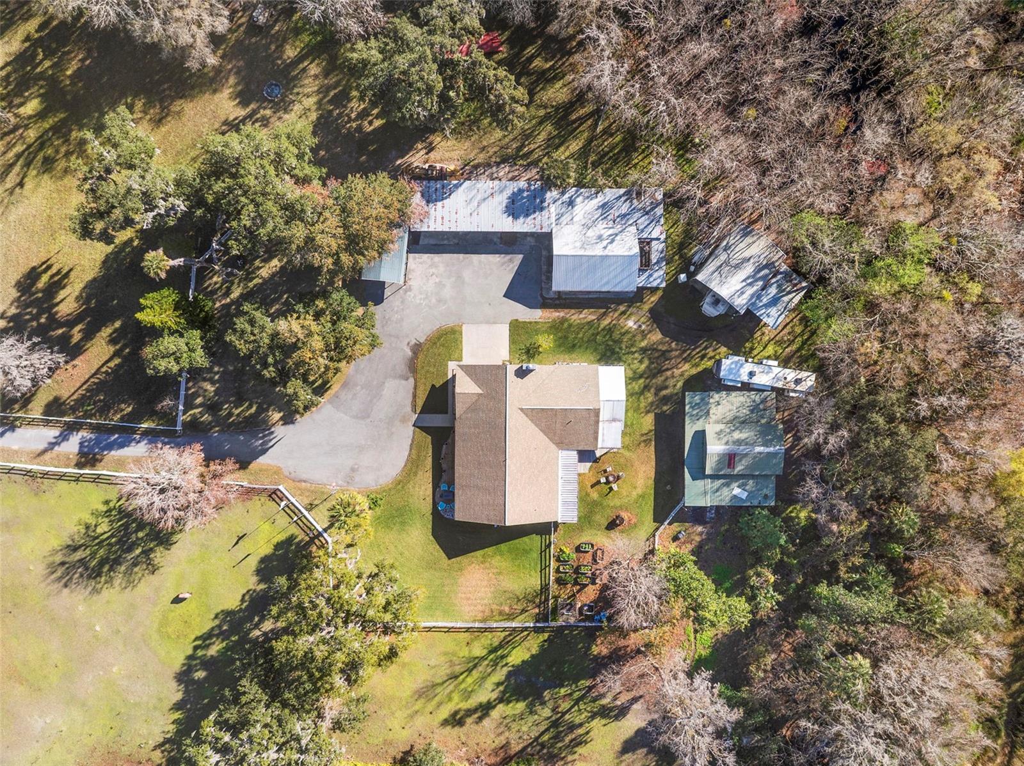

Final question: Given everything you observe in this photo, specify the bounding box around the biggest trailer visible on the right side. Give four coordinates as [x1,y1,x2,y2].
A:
[702,356,819,397]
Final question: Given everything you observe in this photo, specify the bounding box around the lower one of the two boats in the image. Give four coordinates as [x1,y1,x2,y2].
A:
[699,291,731,322]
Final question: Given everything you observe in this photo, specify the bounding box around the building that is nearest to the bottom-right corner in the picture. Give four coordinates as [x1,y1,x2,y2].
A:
[680,391,787,507]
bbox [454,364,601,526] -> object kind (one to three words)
house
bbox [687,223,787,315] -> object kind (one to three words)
shed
